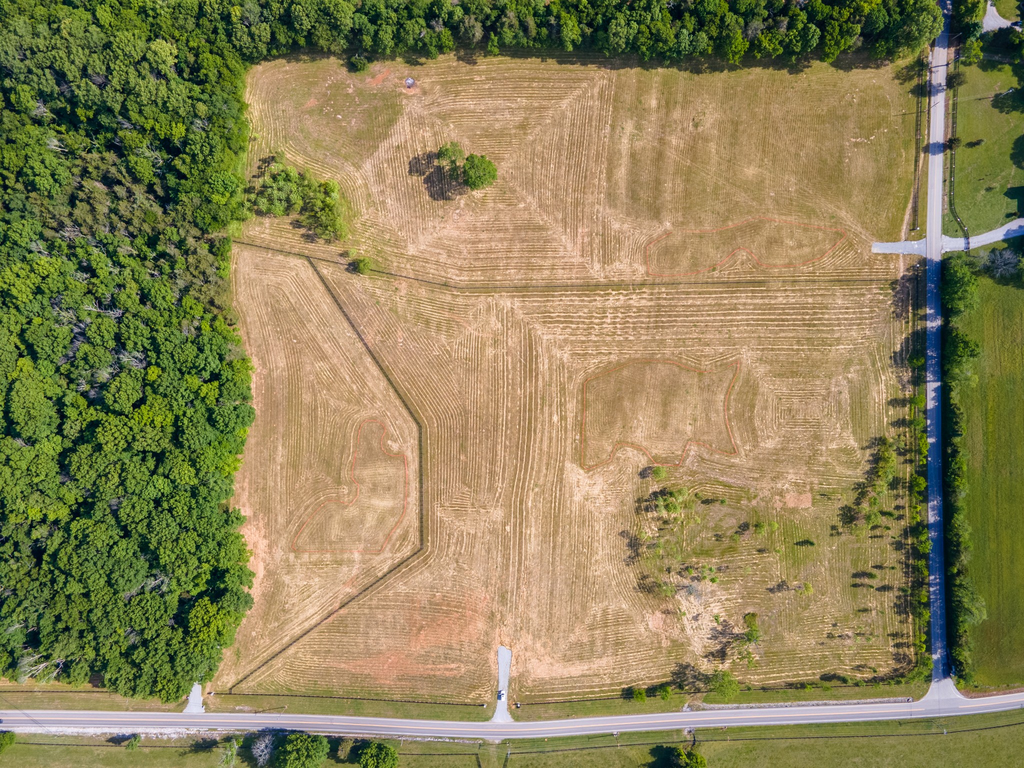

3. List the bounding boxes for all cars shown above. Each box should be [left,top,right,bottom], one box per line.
[1014,20,1024,26]
[499,691,506,702]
